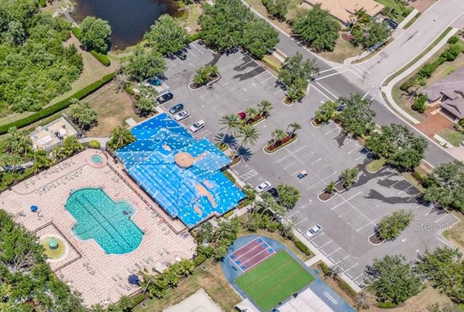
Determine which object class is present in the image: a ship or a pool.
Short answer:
pool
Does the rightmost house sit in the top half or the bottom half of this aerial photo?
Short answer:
top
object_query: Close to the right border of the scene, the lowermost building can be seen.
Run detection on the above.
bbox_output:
[417,55,464,120]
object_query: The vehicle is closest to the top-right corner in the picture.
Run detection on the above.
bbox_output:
[384,16,399,28]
